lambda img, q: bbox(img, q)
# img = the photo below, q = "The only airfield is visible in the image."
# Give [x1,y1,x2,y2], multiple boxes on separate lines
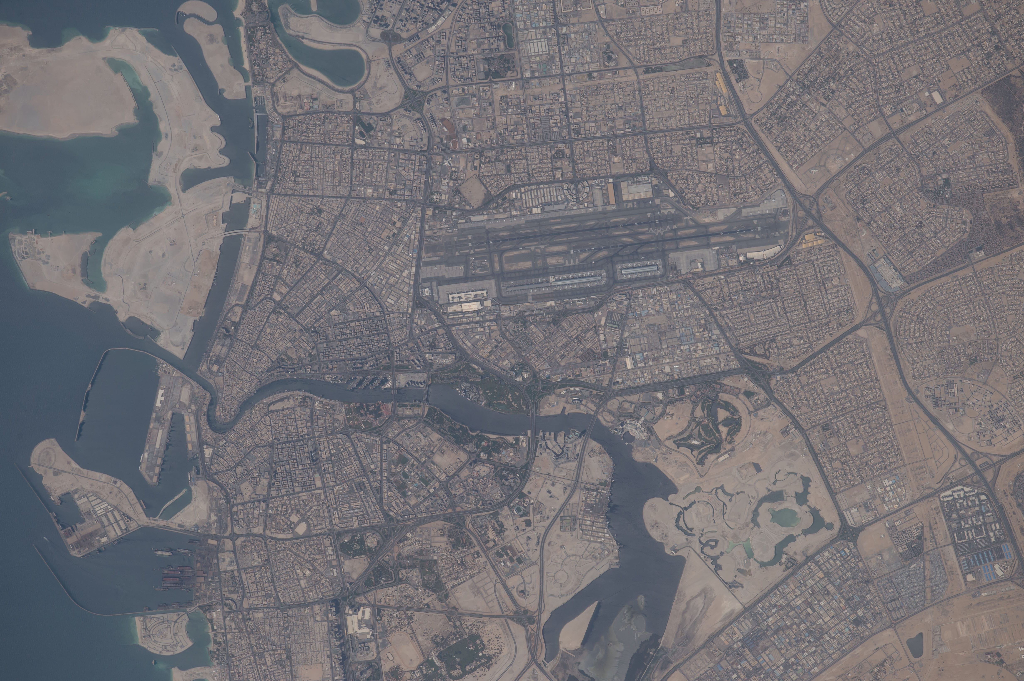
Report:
[419,178,790,305]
